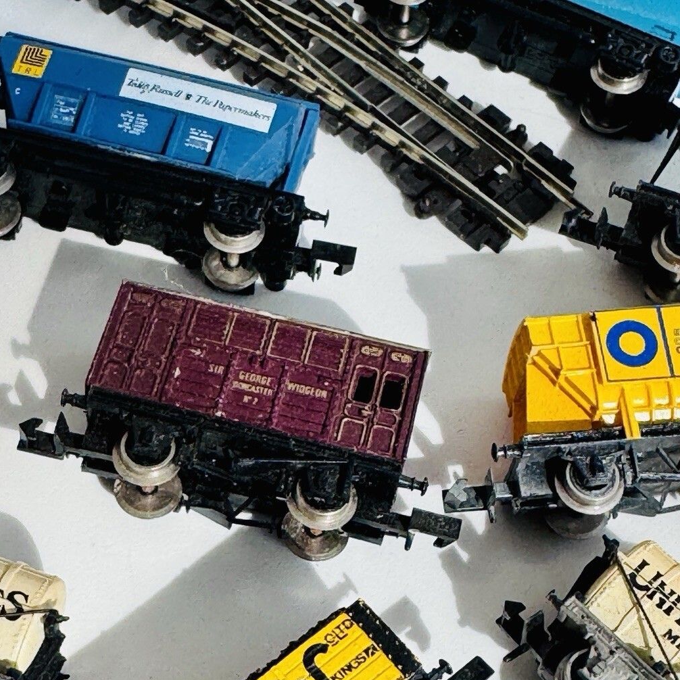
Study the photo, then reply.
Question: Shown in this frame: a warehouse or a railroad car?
railroad car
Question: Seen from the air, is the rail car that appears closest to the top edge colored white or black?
black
